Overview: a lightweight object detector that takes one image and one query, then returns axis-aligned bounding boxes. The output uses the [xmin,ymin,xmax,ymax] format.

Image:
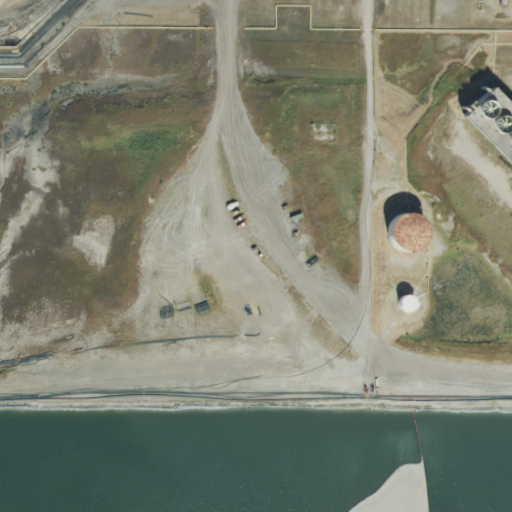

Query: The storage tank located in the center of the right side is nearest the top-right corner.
[386,212,433,252]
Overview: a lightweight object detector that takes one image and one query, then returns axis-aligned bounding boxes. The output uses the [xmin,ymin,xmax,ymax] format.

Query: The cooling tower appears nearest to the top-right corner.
[462,86,512,162]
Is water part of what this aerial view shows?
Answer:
Yes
